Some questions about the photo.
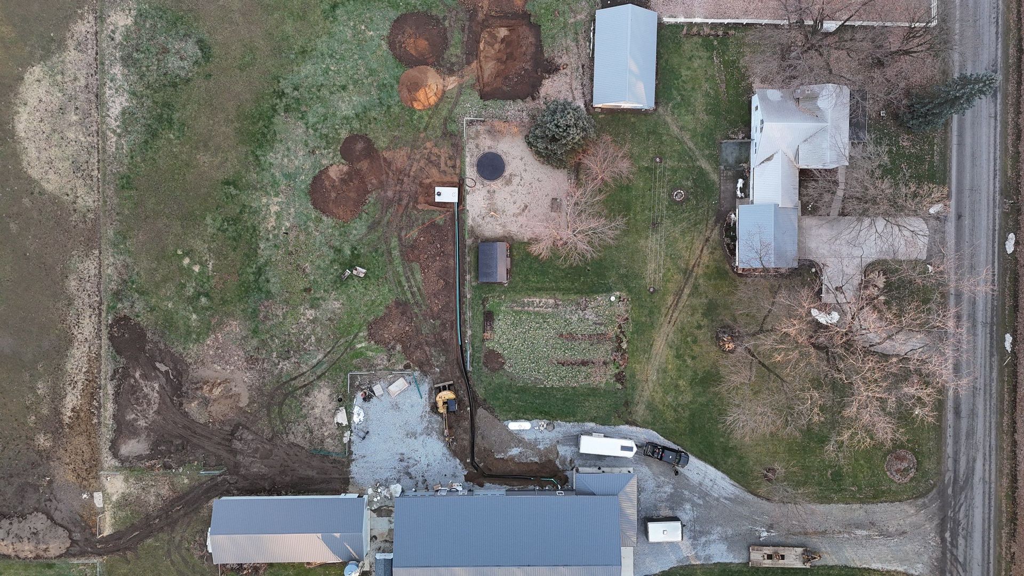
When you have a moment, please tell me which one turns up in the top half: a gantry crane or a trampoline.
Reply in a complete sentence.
What appears in the top half is a trampoline.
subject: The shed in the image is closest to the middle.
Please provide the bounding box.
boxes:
[478,242,512,283]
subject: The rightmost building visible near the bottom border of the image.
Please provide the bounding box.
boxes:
[393,470,638,576]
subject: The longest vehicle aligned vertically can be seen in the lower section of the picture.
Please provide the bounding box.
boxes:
[434,380,457,446]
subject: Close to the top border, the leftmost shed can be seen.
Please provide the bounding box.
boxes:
[593,4,657,110]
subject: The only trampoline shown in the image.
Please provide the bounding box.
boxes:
[474,150,507,183]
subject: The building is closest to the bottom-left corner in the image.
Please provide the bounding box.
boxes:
[209,495,369,564]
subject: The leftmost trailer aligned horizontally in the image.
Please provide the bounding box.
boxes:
[576,429,640,457]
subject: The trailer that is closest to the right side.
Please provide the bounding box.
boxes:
[748,545,819,568]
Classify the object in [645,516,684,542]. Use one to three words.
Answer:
trailer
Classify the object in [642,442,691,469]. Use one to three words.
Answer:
truck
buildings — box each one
[593,4,657,110]
[736,84,849,268]
[209,495,369,564]
[393,470,638,576]
[478,242,512,283]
